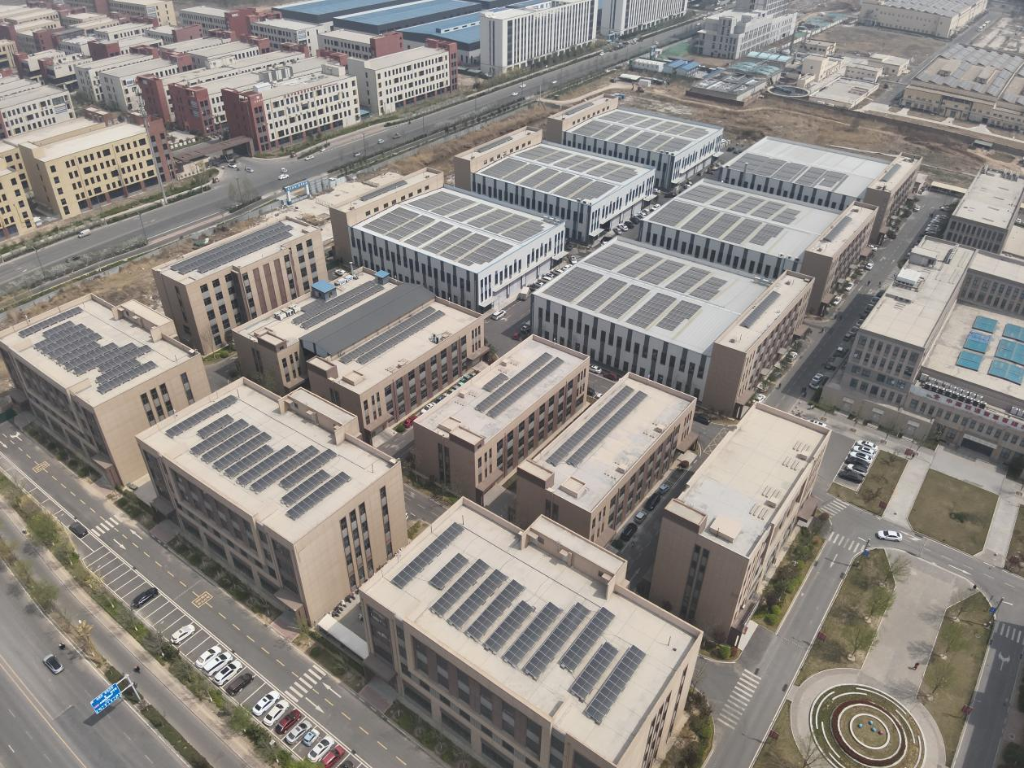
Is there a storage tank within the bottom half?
No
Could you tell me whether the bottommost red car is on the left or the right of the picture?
left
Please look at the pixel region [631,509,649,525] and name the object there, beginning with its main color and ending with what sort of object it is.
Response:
gray car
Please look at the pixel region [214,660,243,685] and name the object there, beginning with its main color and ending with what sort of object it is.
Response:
white car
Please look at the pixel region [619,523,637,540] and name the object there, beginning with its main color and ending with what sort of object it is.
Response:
black car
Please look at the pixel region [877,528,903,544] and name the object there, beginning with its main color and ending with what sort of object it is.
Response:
white car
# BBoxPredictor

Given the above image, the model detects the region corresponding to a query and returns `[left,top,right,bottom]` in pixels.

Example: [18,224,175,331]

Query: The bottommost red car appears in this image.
[317,742,347,768]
